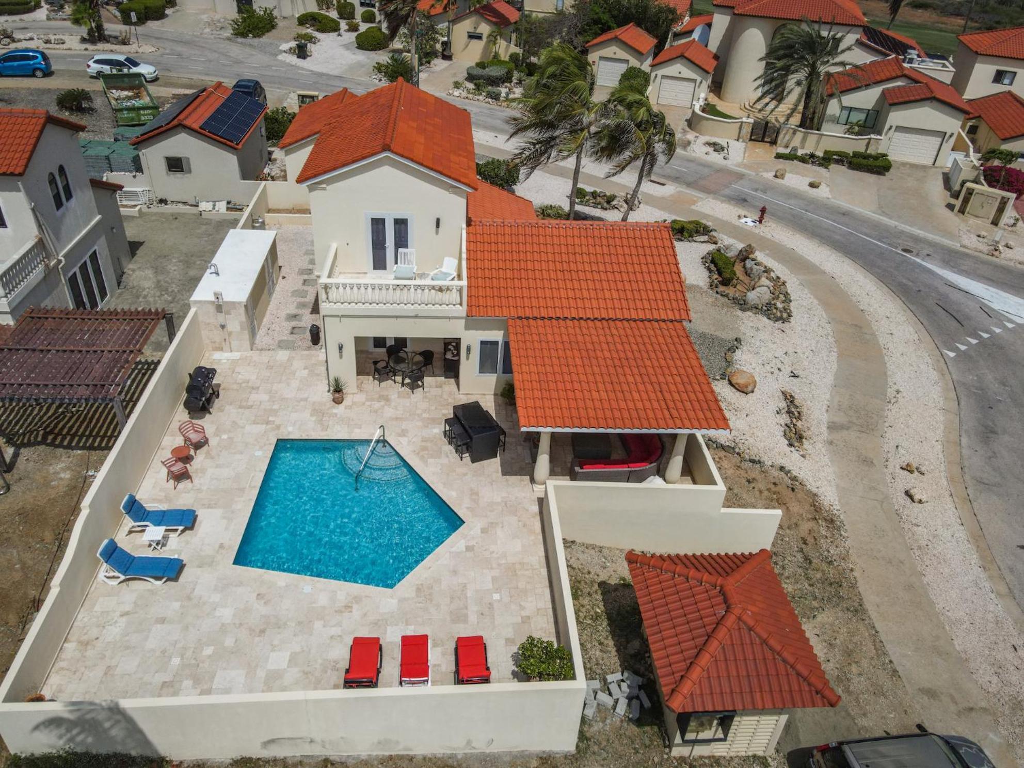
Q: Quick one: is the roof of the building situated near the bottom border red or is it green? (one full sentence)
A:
The roof of the building situated near the bottom border is red.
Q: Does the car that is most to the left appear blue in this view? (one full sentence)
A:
Yes, blue is the color of the car that is most to the left.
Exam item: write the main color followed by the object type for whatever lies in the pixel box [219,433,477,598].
blue swimming pool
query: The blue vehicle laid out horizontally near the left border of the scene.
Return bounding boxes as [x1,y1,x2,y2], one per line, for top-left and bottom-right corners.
[0,48,57,74]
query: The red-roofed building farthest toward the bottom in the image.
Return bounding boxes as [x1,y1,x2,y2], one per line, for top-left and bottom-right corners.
[621,547,848,758]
